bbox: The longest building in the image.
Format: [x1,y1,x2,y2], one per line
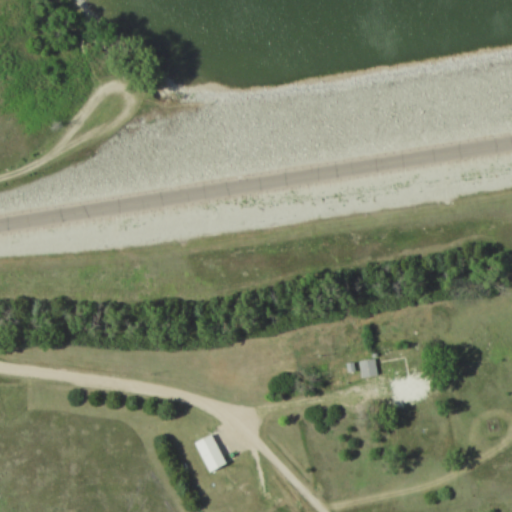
[194,434,228,473]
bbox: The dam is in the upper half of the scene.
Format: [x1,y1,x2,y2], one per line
[0,44,512,258]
